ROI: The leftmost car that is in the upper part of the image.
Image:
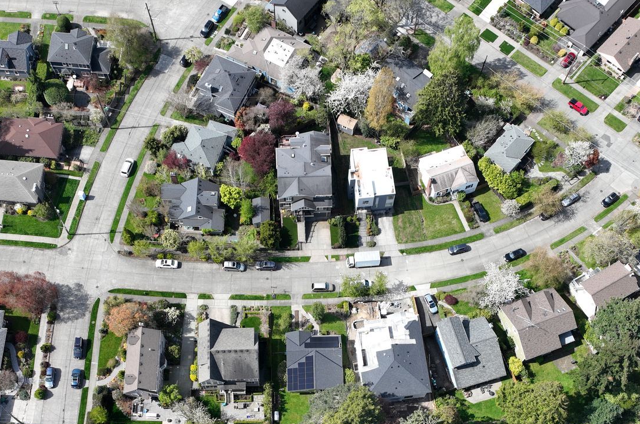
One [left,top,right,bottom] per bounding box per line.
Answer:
[120,156,135,180]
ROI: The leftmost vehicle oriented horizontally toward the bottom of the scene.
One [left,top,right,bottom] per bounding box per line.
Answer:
[154,258,179,270]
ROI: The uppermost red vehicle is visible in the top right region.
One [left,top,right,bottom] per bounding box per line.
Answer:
[560,48,576,69]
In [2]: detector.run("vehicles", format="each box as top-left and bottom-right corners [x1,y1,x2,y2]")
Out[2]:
[604,191,622,208]
[45,365,56,390]
[445,243,471,257]
[503,247,528,263]
[220,260,246,272]
[211,0,231,24]
[472,197,492,224]
[69,366,82,391]
[71,336,85,360]
[564,95,591,117]
[154,258,179,270]
[254,260,278,272]
[178,54,192,70]
[310,280,336,293]
[120,156,135,180]
[422,291,439,315]
[559,192,582,208]
[344,248,386,267]
[200,18,217,39]
[560,48,576,69]
[595,194,609,210]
